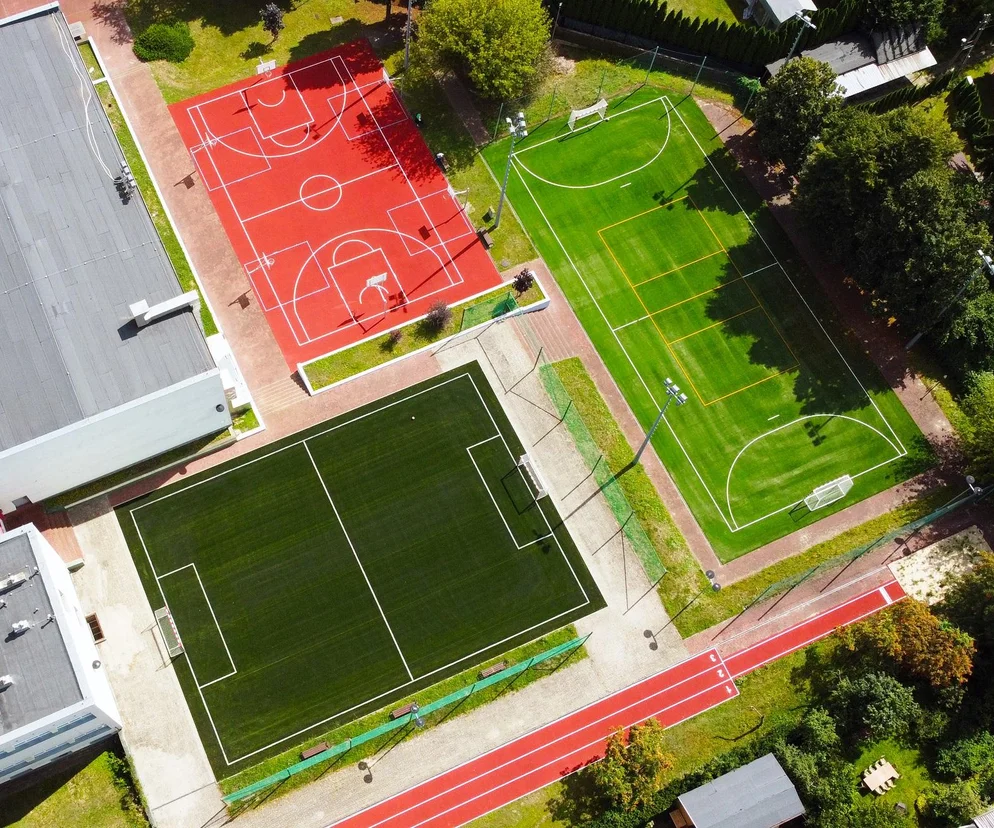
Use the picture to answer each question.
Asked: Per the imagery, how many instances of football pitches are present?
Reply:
2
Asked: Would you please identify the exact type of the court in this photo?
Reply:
basketball court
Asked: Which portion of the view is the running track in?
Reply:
bottom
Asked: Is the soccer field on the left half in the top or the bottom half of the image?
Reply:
bottom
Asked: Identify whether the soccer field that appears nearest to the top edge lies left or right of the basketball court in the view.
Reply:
on its right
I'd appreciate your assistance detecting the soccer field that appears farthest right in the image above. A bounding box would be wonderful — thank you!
[480,86,937,563]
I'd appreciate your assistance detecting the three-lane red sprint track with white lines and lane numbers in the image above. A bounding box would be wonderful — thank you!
[329,647,741,828]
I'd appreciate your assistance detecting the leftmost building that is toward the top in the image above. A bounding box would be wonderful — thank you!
[0,0,231,518]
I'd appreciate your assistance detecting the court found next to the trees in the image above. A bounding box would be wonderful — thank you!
[170,39,502,371]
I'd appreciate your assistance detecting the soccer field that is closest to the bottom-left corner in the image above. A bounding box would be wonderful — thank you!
[116,360,606,779]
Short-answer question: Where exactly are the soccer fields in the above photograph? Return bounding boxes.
[116,360,606,779]
[480,86,937,563]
